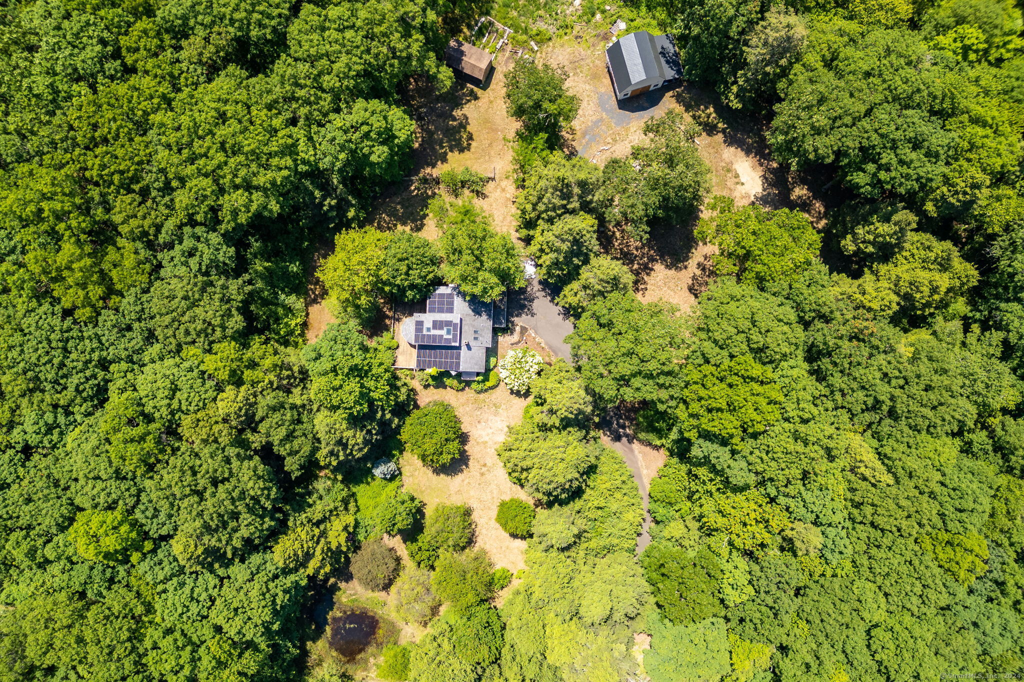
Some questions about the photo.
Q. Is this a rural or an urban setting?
rural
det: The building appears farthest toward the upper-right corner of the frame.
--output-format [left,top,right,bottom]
[605,31,680,100]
